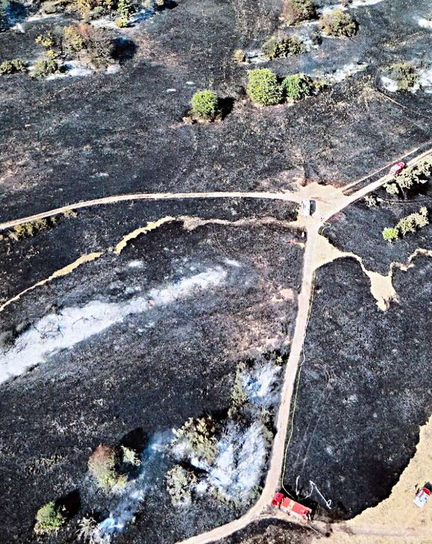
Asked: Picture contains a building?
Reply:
No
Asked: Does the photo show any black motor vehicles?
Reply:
No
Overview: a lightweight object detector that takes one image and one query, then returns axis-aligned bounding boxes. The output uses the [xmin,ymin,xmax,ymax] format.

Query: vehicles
[391,163,405,171]
[272,493,312,523]
[413,483,432,506]
[304,199,310,215]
